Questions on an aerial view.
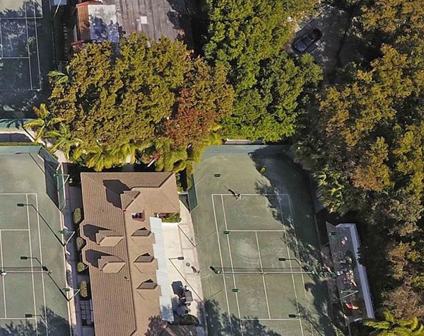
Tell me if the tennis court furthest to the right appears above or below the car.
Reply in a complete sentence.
The tennis court furthest to the right is located below the car in this view.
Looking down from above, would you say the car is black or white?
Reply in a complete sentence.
In this view, the car is black.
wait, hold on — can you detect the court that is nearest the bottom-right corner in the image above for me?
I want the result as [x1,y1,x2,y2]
[188,154,337,336]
